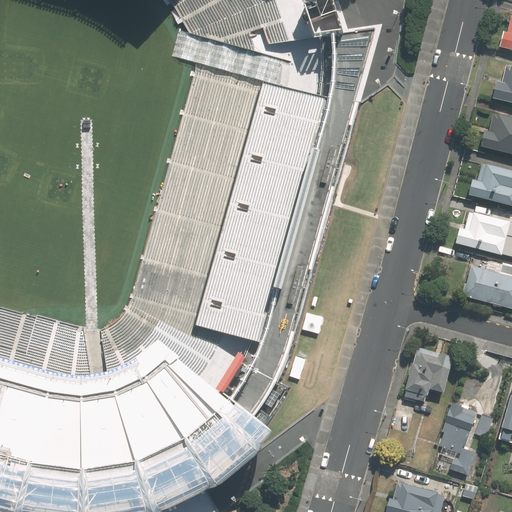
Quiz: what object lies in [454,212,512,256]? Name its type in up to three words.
house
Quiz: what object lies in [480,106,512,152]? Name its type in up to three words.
house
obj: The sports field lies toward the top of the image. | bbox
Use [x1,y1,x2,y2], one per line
[0,0,195,332]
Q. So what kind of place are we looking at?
sports ground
